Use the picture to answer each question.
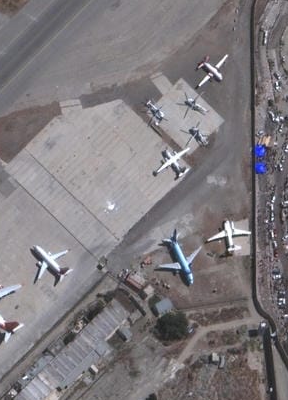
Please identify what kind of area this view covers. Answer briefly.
airport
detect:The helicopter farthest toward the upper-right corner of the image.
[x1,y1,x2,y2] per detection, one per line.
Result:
[179,93,209,117]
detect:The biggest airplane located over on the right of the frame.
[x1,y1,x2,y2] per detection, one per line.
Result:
[155,232,200,287]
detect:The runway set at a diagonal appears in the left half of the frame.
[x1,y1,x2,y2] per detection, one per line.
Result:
[0,0,90,90]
